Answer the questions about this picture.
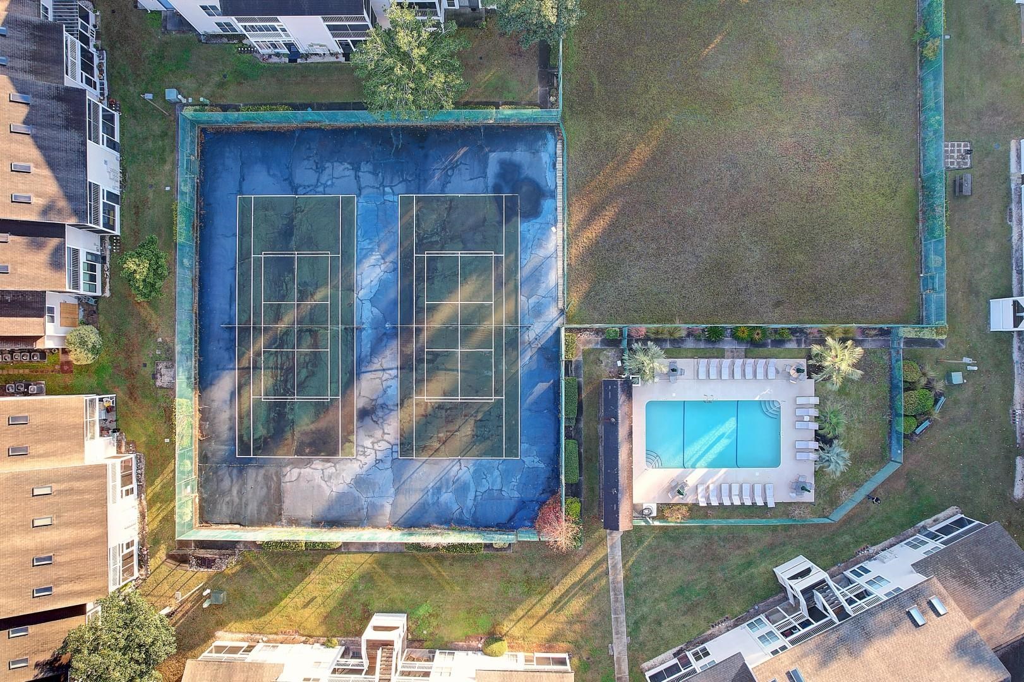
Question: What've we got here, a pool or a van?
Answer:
pool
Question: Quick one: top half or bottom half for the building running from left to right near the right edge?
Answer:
bottom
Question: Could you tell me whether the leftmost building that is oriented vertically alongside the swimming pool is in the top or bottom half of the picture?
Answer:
bottom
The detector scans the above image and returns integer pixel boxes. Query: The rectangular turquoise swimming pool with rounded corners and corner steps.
[643,396,785,471]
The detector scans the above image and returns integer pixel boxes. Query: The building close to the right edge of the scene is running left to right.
[645,513,1024,682]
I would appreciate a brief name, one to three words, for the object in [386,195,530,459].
tennis court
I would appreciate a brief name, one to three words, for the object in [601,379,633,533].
building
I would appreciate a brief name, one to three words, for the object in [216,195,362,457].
tennis court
